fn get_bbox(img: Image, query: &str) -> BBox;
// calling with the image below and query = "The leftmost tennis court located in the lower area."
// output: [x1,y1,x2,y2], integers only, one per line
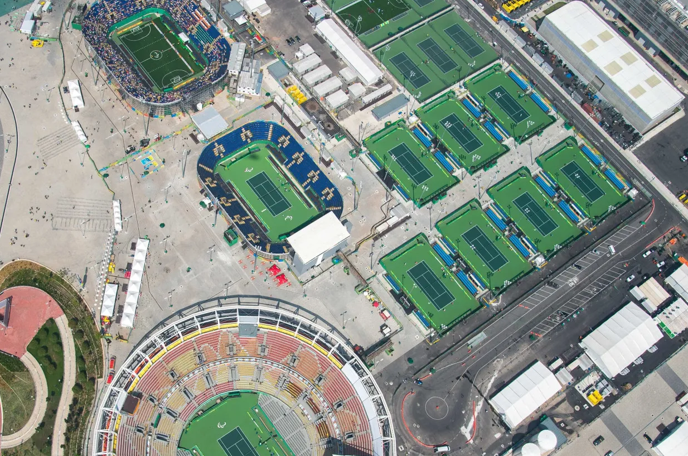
[381,234,484,337]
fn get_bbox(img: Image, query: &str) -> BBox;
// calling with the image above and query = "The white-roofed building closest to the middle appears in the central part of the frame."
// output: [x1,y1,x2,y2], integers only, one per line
[284,212,350,274]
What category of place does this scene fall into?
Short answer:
sports ground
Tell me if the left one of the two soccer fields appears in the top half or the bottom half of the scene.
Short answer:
top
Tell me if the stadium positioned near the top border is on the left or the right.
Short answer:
left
